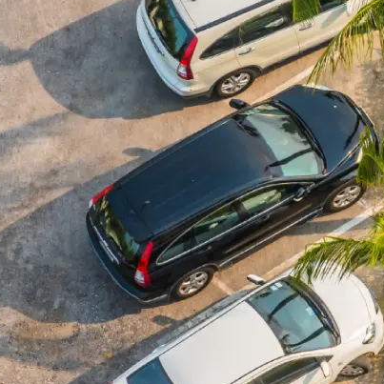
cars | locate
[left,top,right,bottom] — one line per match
[108,265,380,384]
[88,80,378,301]
[132,0,384,99]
